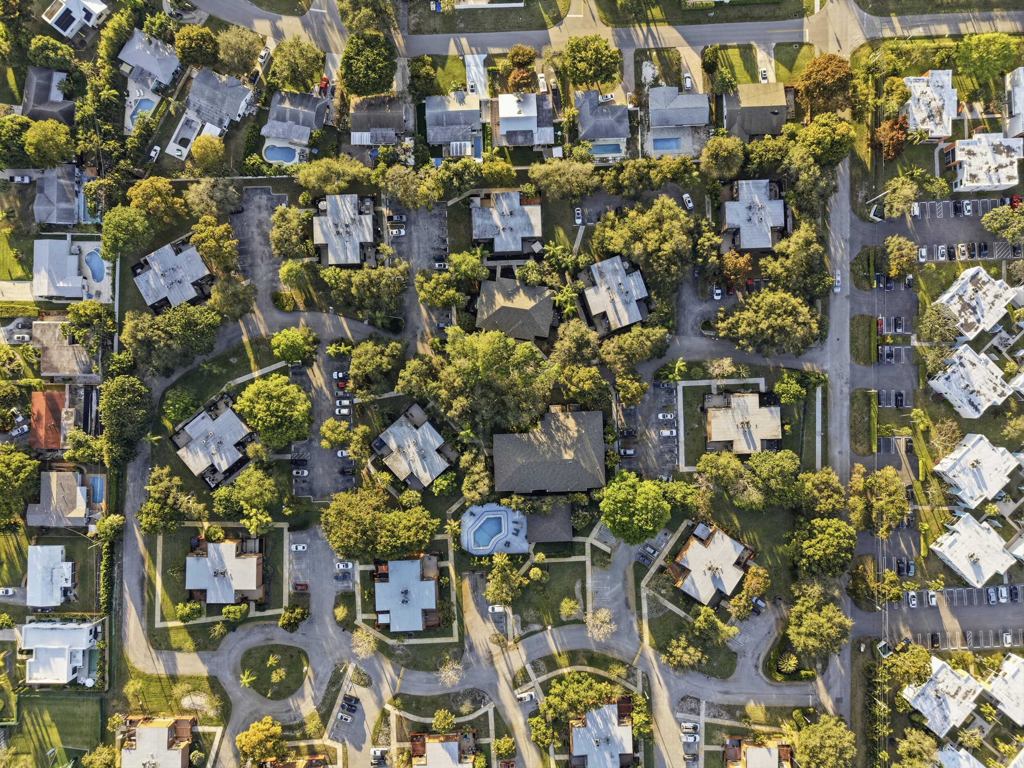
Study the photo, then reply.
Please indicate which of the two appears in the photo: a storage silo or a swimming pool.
swimming pool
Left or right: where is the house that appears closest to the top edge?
left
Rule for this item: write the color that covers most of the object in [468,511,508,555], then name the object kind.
blue swimming pool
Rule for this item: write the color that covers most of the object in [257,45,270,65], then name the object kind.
white vehicle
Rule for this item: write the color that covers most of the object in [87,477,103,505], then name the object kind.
blue swimming pool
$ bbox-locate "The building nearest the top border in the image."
[42,0,112,39]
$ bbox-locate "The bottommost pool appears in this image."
[86,649,98,679]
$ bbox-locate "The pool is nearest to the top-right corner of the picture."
[653,137,682,151]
